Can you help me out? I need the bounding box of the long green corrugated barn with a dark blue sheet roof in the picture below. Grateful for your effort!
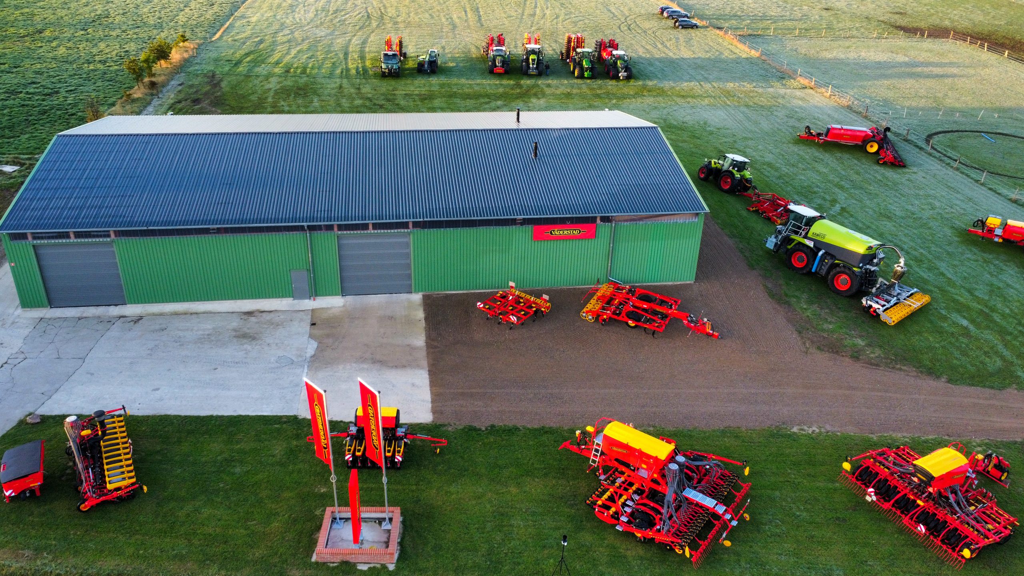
[0,107,710,310]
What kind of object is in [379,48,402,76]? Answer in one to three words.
truck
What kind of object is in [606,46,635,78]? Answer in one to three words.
work vehicle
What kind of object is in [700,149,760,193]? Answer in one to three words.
work vehicle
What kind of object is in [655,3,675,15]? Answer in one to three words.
vehicle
